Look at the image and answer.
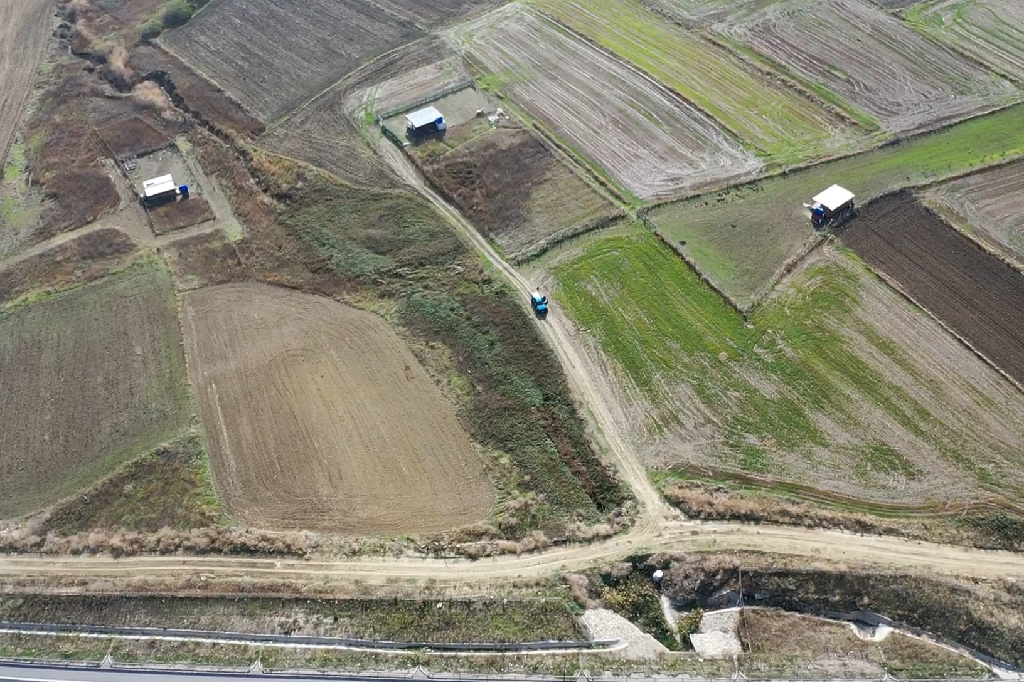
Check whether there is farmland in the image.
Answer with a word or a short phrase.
Yes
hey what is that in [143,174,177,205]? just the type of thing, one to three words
shed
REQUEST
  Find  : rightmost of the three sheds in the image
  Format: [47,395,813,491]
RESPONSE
[810,184,855,222]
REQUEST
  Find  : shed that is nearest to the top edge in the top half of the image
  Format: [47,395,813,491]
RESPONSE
[406,105,443,137]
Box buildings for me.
[143,174,177,205]
[406,105,443,137]
[810,184,855,222]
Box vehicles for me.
[530,287,550,317]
